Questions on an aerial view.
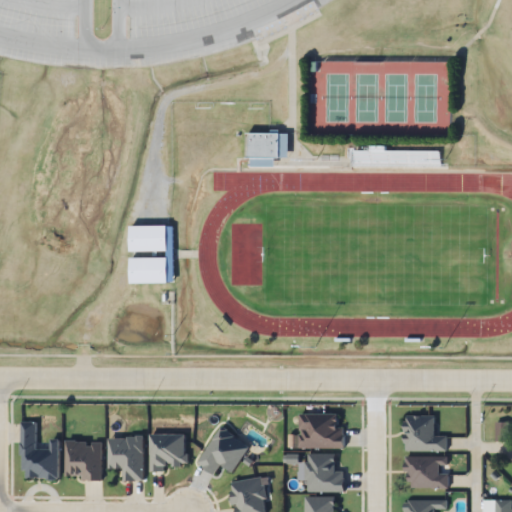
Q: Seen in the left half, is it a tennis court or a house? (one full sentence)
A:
Visible in the left half is a house.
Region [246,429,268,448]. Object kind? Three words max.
swimming pool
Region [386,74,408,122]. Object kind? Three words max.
tennis court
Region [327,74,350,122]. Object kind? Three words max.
tennis court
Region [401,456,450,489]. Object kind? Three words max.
house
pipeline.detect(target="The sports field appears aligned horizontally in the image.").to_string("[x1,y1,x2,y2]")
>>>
[220,194,512,316]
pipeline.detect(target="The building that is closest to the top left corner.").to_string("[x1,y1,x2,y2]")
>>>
[128,226,166,252]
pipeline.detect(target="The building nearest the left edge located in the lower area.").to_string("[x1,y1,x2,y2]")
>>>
[20,422,59,480]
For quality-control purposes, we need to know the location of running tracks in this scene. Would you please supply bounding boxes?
[198,172,512,338]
